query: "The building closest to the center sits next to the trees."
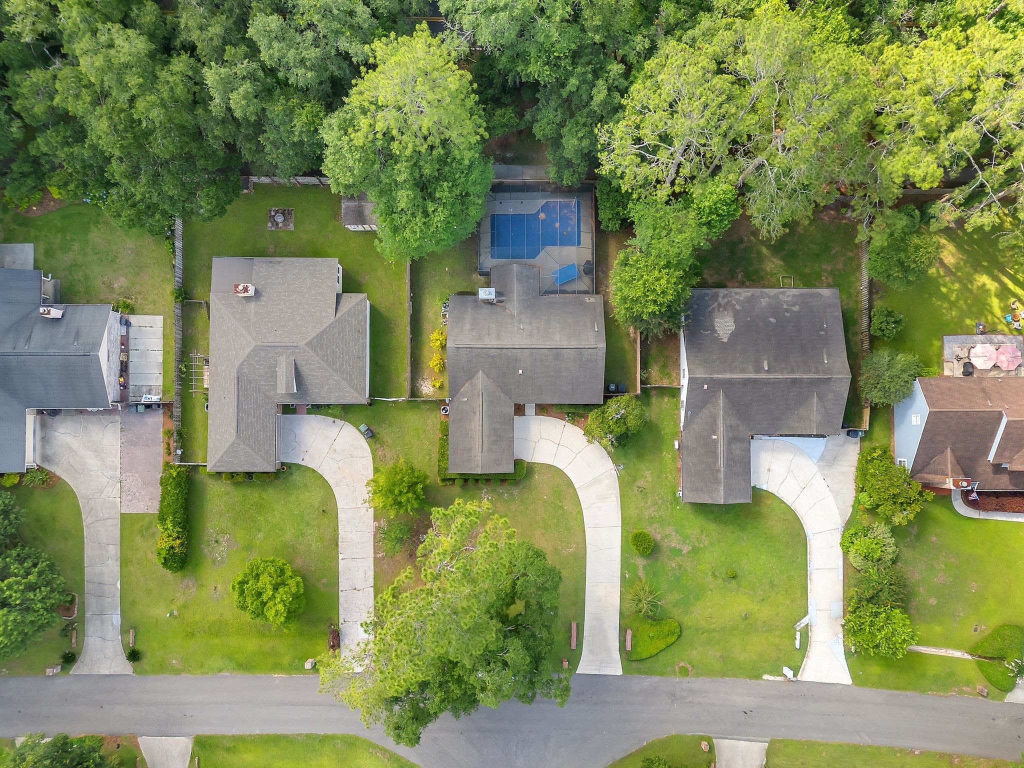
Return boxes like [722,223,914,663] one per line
[446,264,606,473]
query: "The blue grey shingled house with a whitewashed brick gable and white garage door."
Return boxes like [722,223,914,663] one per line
[0,268,122,474]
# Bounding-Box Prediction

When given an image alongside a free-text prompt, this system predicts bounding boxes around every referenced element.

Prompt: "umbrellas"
[996,345,1021,369]
[965,344,995,369]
